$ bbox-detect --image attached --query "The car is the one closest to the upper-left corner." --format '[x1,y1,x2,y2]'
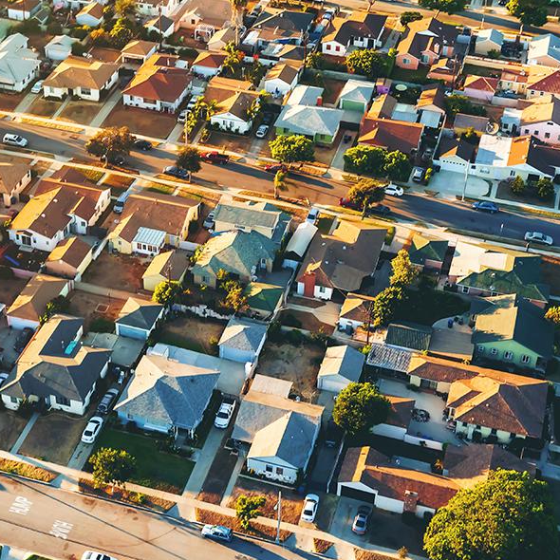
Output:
[29,80,46,94]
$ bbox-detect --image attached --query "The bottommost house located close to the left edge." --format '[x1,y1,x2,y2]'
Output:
[1,312,113,421]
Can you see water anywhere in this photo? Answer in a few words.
No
